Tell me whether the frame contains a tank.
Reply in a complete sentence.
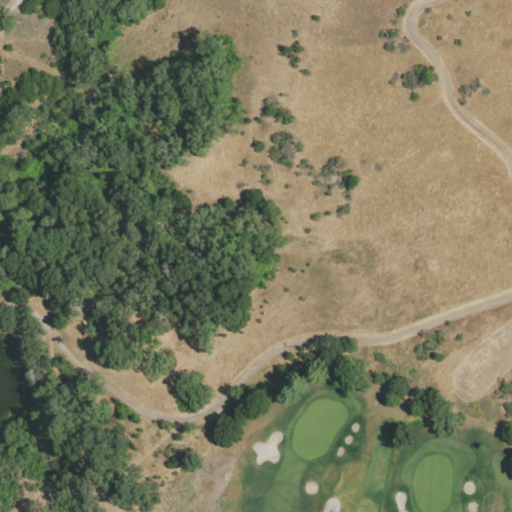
No, there's no tank here.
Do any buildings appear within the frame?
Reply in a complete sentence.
No, there's no building here.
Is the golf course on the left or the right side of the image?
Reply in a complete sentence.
It is on the right.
